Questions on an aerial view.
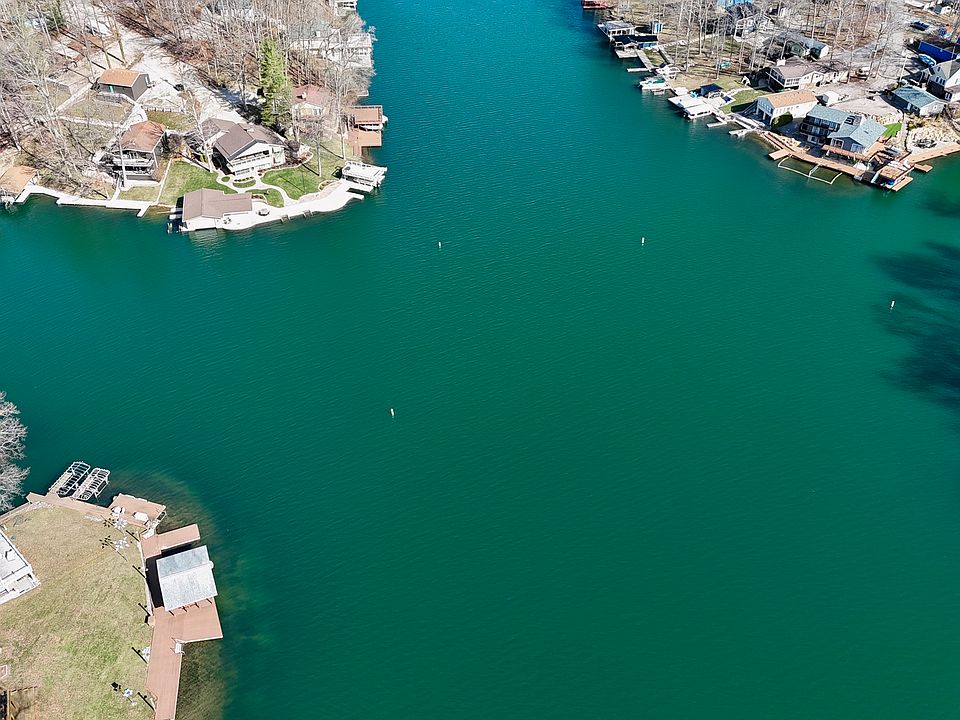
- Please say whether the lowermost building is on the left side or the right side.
left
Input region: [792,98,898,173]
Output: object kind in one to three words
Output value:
house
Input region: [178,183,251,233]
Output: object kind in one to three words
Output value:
building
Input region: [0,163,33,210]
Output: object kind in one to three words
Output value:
building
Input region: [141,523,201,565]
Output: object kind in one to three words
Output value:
pier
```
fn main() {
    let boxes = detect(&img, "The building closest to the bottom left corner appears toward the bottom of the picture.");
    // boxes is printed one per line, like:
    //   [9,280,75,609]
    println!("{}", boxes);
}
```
[153,544,220,622]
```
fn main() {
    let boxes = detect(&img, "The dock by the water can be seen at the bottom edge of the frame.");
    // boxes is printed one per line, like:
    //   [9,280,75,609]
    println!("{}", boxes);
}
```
[143,596,224,720]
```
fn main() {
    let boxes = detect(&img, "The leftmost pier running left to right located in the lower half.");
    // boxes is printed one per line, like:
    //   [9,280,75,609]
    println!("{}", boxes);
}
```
[25,492,110,520]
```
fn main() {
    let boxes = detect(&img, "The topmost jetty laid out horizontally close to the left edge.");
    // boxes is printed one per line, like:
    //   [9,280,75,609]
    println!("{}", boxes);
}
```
[32,184,158,222]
